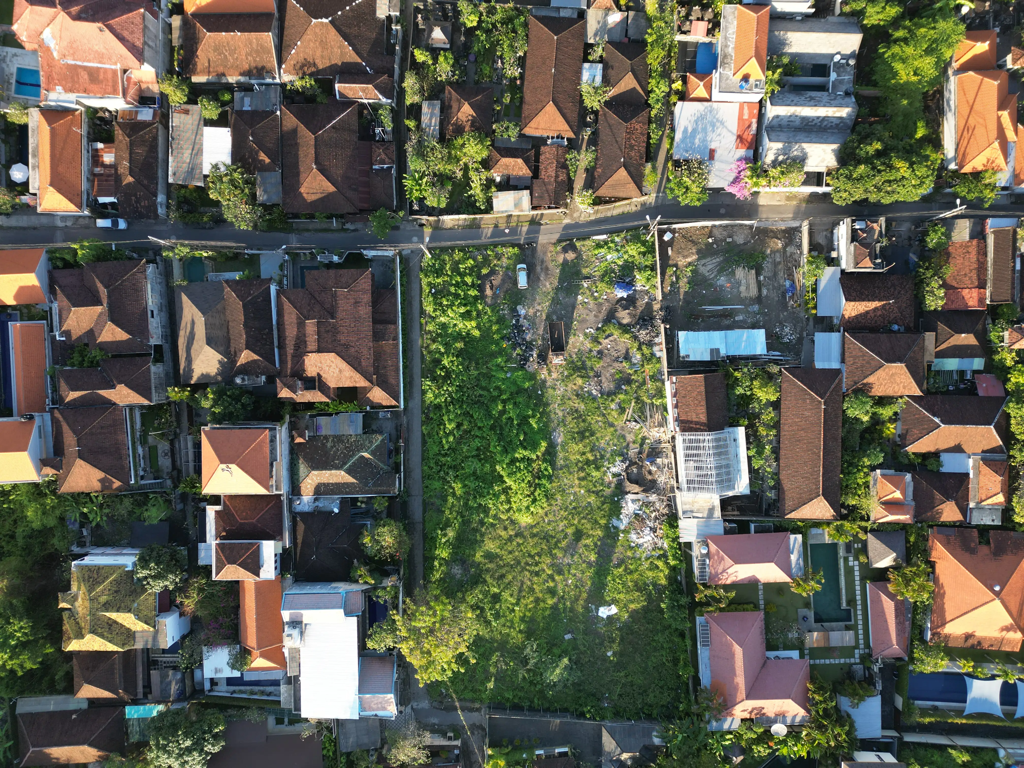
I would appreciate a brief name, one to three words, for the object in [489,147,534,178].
house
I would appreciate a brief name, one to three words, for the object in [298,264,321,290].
swimming pool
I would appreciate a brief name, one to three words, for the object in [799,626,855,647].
gazebo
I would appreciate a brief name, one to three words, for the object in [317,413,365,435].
shed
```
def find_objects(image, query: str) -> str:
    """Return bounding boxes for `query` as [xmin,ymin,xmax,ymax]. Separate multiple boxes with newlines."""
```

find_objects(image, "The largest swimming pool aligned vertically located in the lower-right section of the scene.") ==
[808,541,854,625]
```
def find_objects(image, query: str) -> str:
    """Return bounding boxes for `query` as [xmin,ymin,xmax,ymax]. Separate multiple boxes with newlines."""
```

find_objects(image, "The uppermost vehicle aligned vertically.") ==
[516,262,528,288]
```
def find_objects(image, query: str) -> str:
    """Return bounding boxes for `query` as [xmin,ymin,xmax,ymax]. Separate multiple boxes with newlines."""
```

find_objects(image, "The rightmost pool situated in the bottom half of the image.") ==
[907,671,1024,708]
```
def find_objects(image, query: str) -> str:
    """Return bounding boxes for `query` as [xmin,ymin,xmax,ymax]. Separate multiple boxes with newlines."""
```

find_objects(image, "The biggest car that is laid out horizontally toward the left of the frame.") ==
[94,216,126,229]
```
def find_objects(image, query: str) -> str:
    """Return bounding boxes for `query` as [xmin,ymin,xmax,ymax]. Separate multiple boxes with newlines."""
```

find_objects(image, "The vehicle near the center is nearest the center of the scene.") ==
[551,316,567,362]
